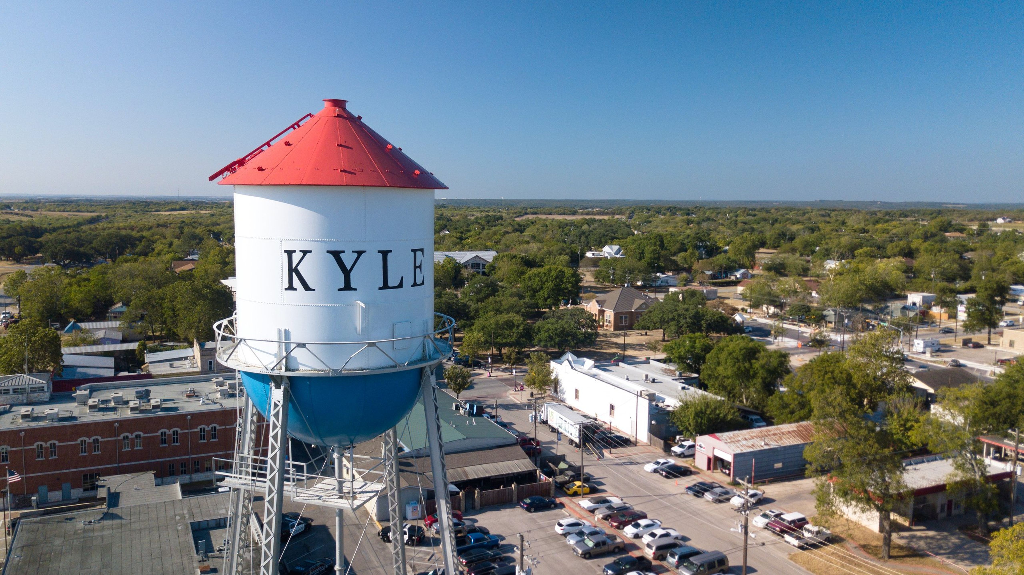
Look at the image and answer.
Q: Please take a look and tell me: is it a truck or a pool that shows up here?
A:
truck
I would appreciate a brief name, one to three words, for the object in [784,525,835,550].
truck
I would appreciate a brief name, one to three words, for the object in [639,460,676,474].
car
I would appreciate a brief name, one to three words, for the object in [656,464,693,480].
car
